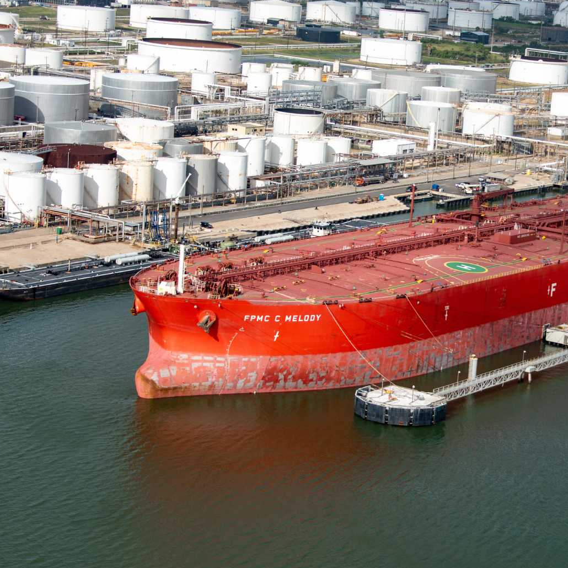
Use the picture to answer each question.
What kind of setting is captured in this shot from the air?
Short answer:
industrial area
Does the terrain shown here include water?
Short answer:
Yes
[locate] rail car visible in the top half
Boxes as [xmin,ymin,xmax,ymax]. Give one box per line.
[175,125,199,137]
